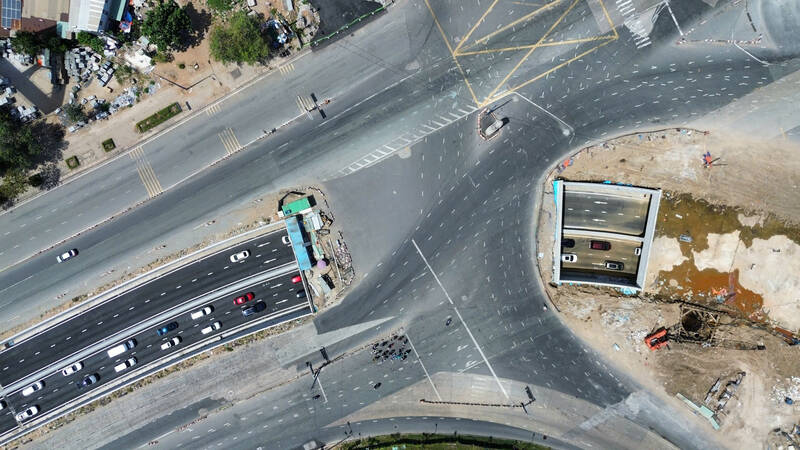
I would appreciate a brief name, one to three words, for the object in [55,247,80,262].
car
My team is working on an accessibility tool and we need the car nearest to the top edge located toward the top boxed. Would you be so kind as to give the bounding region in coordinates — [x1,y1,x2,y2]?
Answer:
[486,118,505,135]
